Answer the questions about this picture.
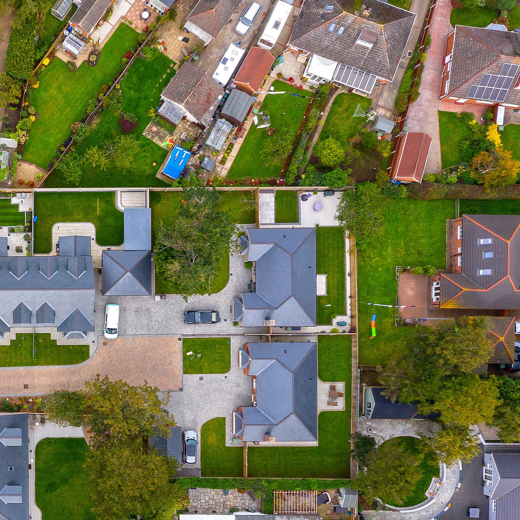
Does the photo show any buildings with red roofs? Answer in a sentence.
Yes, I can see a building with a red roof in this picture.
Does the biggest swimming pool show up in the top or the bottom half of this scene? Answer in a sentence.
The biggest swimming pool sits in the top half of the picture.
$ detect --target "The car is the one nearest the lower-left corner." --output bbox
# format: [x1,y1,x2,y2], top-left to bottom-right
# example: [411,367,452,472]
[183,430,199,465]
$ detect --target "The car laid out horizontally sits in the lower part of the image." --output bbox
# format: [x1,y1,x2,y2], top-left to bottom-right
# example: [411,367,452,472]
[183,309,219,325]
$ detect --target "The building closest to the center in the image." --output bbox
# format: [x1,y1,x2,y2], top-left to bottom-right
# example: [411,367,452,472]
[230,227,317,327]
